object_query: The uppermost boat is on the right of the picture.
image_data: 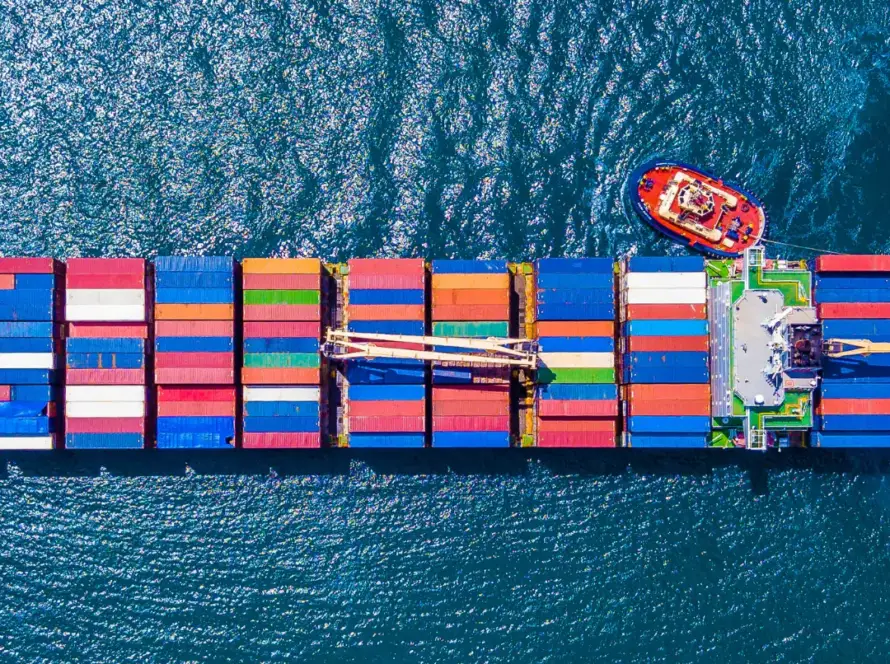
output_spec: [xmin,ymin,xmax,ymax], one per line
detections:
[628,163,773,254]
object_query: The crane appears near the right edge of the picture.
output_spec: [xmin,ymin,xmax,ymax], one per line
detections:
[807,337,890,360]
